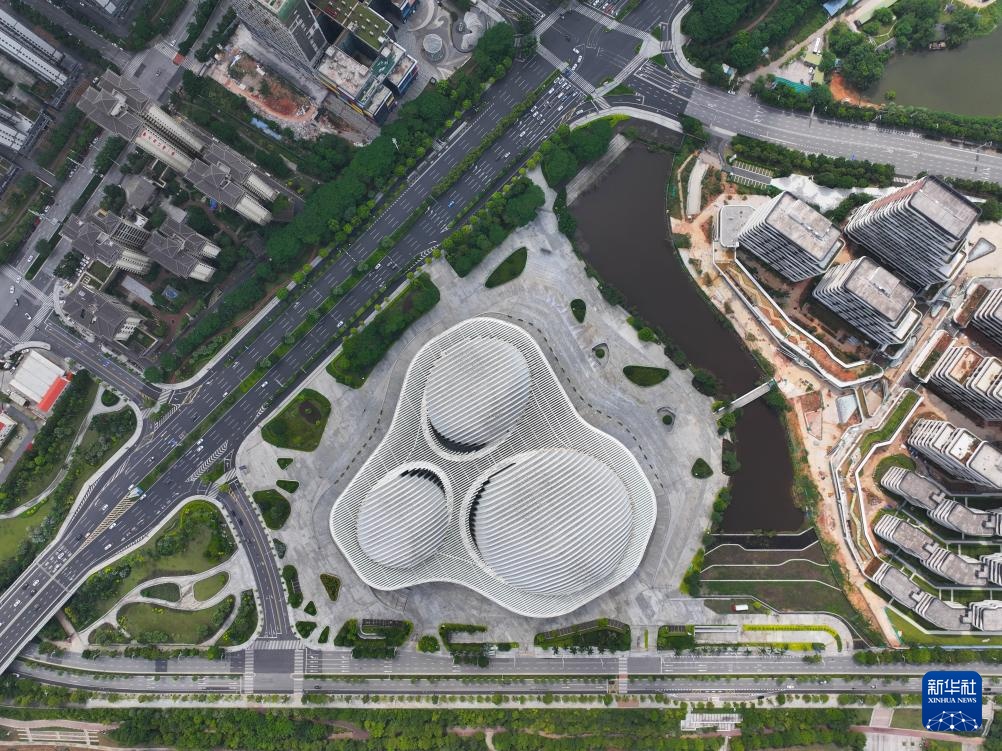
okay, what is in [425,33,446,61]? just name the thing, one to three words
building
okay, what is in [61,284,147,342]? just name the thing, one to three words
building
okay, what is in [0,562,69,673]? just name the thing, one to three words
bridge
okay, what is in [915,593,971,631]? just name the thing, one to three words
house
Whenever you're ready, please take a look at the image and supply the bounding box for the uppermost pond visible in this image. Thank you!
[865,24,1002,116]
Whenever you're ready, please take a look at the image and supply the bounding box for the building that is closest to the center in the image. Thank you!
[331,317,656,618]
